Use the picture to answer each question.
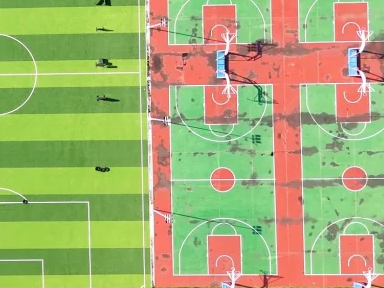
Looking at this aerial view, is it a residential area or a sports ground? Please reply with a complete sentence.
The picture captures a sports ground.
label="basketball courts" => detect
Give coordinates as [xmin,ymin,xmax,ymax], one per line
[296,80,384,276]
[296,0,384,44]
[168,0,275,46]
[169,82,279,277]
